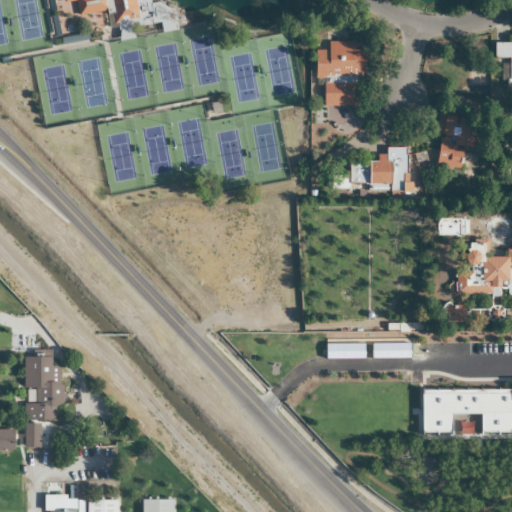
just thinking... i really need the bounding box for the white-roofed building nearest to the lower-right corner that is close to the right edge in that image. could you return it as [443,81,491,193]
[424,388,512,435]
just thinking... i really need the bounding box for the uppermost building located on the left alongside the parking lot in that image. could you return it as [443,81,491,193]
[25,350,66,421]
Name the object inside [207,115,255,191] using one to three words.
tennis court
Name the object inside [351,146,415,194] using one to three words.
house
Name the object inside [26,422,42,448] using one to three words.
building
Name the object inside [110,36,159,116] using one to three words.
tennis court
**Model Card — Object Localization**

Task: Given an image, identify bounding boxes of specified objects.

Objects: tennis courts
[256,34,296,108]
[8,0,53,52]
[98,118,146,193]
[207,115,255,191]
[182,26,230,102]
[70,44,116,122]
[110,36,159,116]
[223,39,269,114]
[134,112,181,188]
[243,110,290,184]
[33,50,82,128]
[146,30,194,109]
[169,105,216,182]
